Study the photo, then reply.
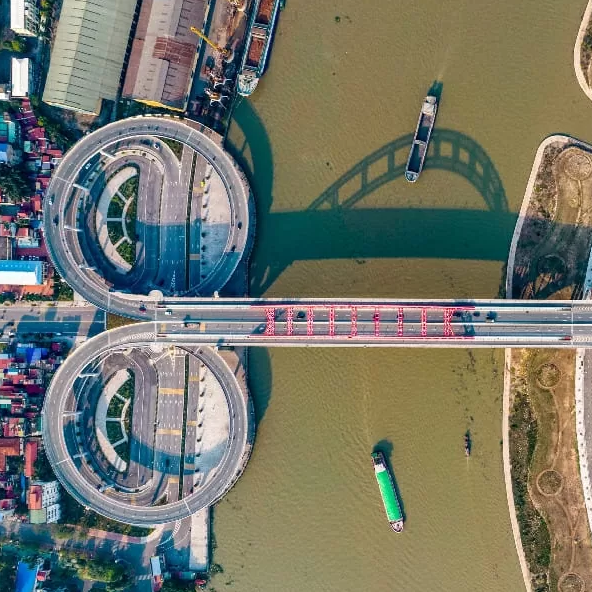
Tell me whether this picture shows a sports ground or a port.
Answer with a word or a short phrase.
port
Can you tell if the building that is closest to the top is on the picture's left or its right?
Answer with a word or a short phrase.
left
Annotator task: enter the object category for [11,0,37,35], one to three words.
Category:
building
